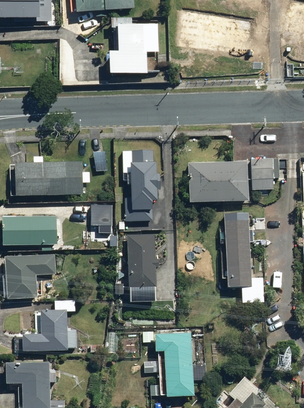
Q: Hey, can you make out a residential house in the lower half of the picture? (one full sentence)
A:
Yes, a residential house appears in the lower half of the picture.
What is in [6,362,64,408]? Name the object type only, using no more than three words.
house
